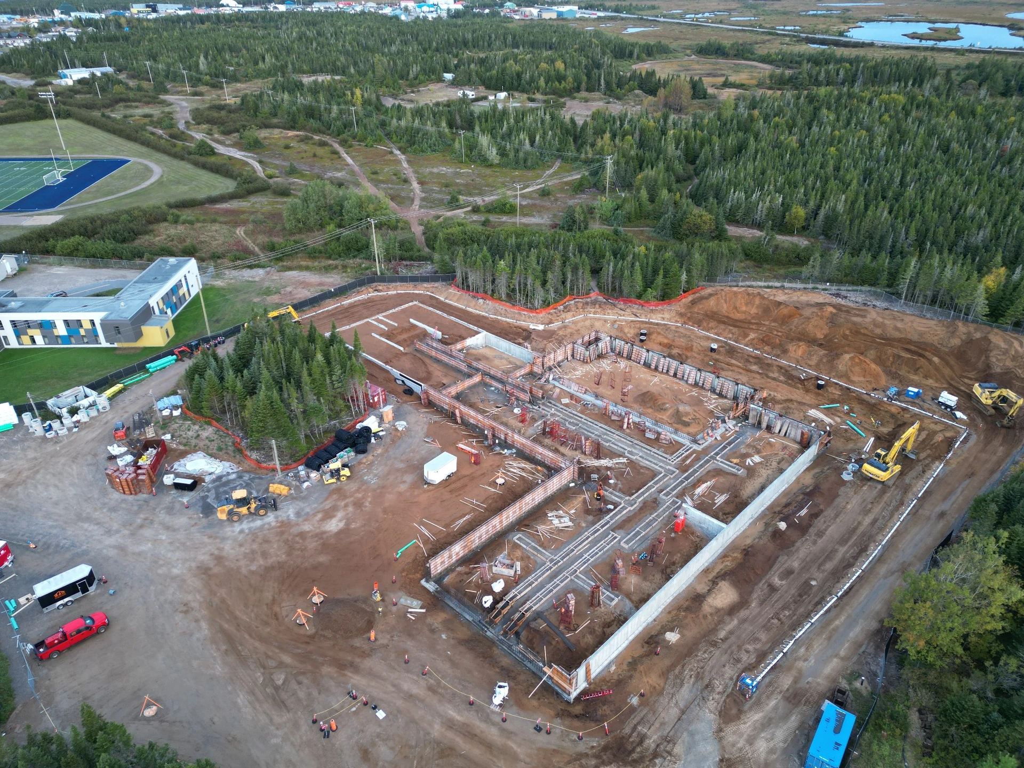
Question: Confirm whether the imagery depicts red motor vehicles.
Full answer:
Yes, the photo shows a red motor vehicle.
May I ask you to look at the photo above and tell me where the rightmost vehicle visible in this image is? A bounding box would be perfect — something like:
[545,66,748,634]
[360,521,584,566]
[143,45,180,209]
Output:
[968,388,1024,432]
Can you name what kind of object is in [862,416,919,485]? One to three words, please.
work vehicle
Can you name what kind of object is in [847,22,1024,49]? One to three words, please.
pond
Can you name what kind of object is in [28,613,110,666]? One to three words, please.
truck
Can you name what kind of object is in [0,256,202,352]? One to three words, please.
building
